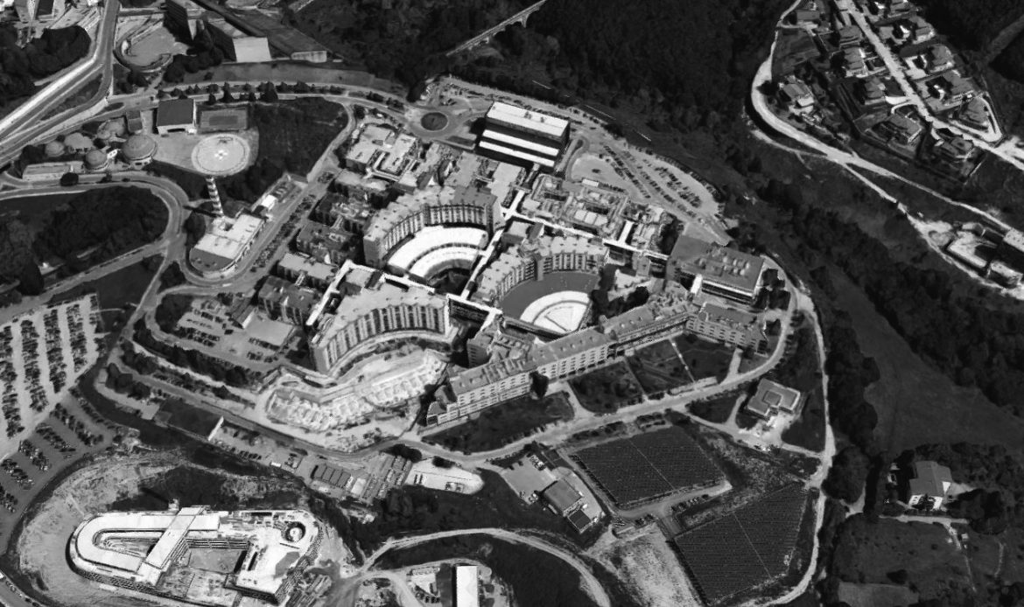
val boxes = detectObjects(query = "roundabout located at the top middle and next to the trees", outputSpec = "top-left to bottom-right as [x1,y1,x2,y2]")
[409,103,461,138]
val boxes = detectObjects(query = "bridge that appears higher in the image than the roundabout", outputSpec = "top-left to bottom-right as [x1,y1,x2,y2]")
[445,0,555,65]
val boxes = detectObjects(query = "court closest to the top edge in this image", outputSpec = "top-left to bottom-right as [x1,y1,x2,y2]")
[198,105,249,130]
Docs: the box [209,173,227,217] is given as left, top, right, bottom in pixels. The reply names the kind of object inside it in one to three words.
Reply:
chimney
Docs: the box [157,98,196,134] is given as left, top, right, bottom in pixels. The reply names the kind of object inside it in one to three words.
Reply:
building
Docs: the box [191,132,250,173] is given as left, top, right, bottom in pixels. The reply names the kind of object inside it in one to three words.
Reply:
helipad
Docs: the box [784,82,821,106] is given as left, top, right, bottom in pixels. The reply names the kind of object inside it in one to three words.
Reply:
house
